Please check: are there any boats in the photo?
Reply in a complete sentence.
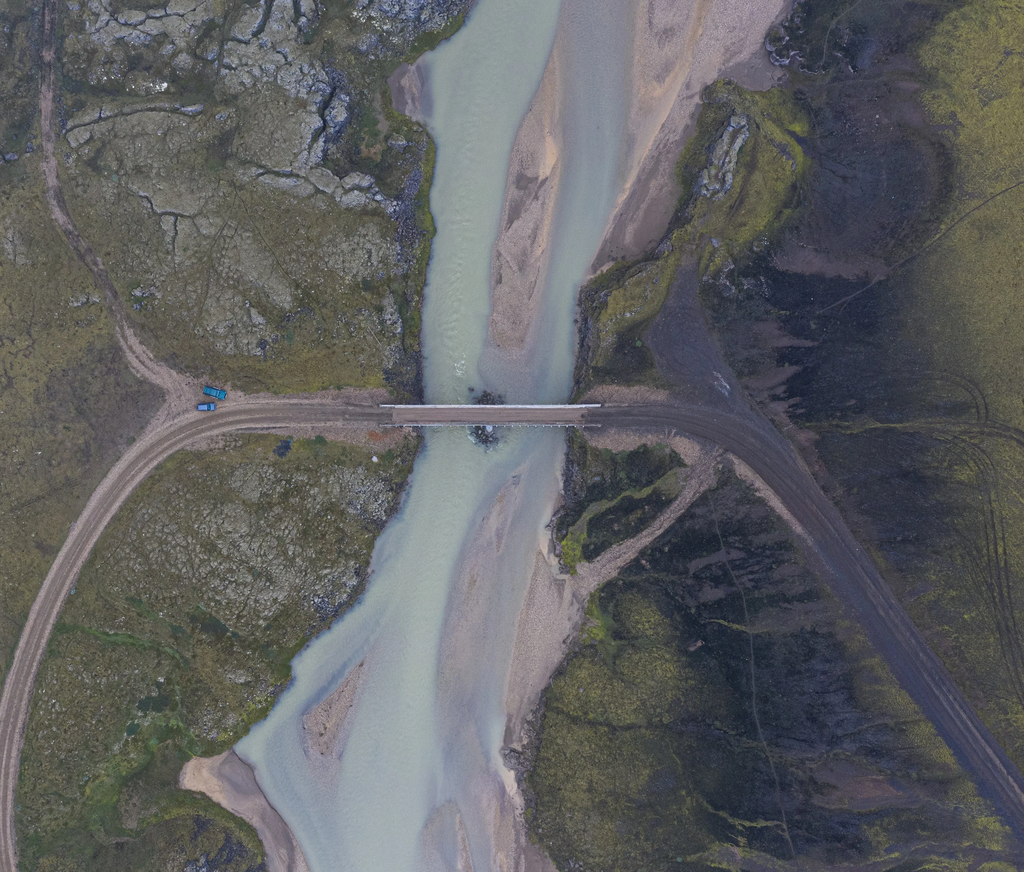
No, there appears to be no boat in this shot.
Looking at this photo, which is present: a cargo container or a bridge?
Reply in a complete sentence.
Visible in the photo is a bridge.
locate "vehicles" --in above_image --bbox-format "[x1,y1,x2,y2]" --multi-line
[201,386,228,400]
[196,403,217,412]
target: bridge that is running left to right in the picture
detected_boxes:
[378,403,602,436]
